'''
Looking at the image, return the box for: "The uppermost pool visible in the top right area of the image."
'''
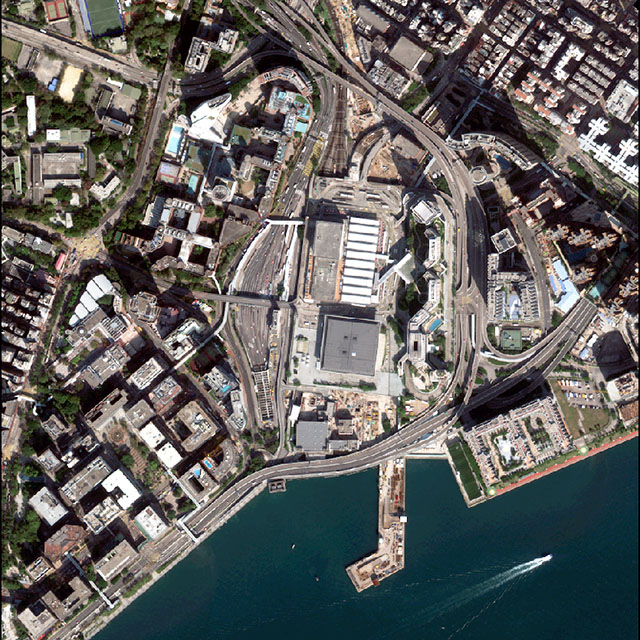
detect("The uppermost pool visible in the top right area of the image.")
[494,153,511,169]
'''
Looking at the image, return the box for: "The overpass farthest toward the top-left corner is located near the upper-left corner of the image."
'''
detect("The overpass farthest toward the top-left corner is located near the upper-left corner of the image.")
[0,22,161,88]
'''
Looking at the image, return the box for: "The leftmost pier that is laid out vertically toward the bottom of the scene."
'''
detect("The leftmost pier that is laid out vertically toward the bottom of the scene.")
[345,454,406,591]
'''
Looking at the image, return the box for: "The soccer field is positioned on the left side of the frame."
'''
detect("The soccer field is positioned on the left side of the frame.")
[88,0,123,39]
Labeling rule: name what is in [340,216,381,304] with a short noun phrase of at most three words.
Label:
train station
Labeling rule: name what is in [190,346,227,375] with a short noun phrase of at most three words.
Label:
building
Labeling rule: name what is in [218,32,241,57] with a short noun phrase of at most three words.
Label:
building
